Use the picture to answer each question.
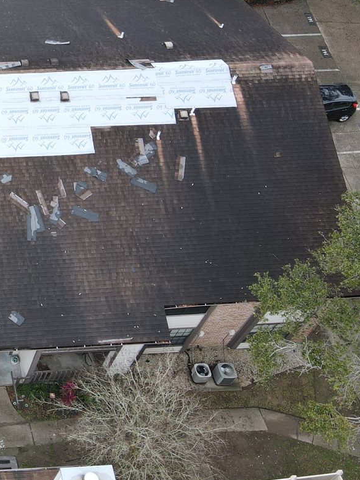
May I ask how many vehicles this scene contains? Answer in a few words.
one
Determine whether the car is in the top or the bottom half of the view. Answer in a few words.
top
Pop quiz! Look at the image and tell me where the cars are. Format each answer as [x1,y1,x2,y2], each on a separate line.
[317,78,355,120]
